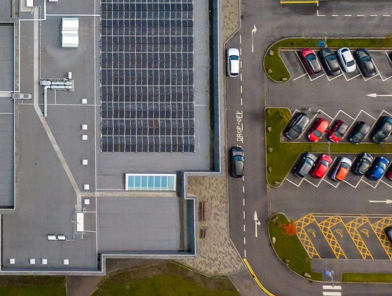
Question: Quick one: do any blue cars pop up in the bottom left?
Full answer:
No, I see no blue car in the bottom left.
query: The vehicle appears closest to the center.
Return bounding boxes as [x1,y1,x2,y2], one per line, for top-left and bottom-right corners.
[229,146,246,178]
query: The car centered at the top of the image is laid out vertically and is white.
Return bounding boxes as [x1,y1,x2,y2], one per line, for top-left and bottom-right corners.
[226,48,239,77]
